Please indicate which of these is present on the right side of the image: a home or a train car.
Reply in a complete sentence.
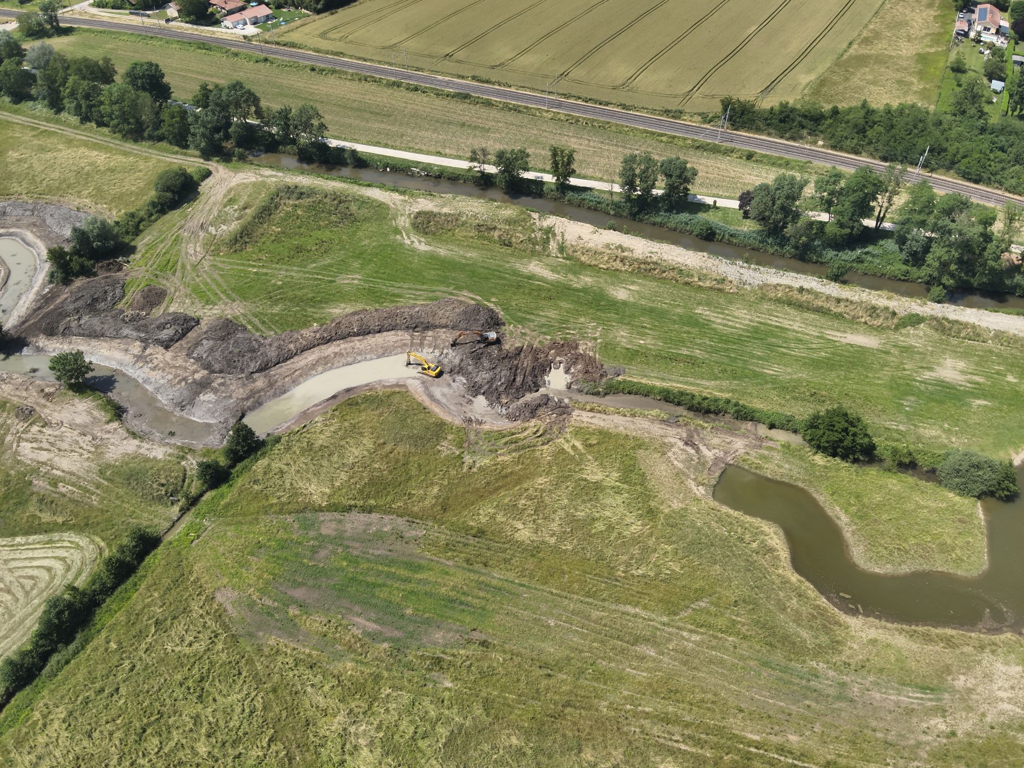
The one visible on the right side of the image is a home.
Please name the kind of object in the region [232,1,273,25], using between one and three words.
house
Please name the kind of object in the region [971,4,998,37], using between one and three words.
house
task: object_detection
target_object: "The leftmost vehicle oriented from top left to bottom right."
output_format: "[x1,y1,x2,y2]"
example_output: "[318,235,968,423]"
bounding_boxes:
[405,347,441,379]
